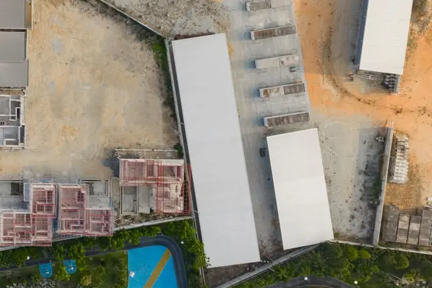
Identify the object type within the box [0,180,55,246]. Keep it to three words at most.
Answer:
house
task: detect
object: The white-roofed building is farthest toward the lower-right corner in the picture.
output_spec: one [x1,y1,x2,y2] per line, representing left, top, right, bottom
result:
[262,128,334,250]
